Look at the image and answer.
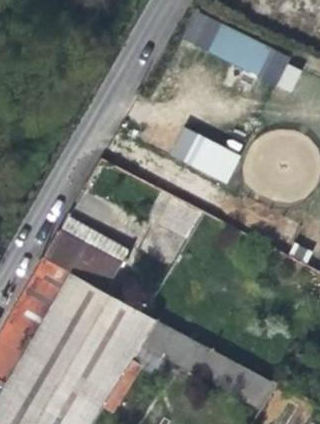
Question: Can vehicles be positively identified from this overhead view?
Yes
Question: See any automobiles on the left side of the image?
Yes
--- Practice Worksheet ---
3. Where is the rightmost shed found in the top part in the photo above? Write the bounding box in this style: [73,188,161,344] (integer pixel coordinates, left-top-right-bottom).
[278,64,302,92]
